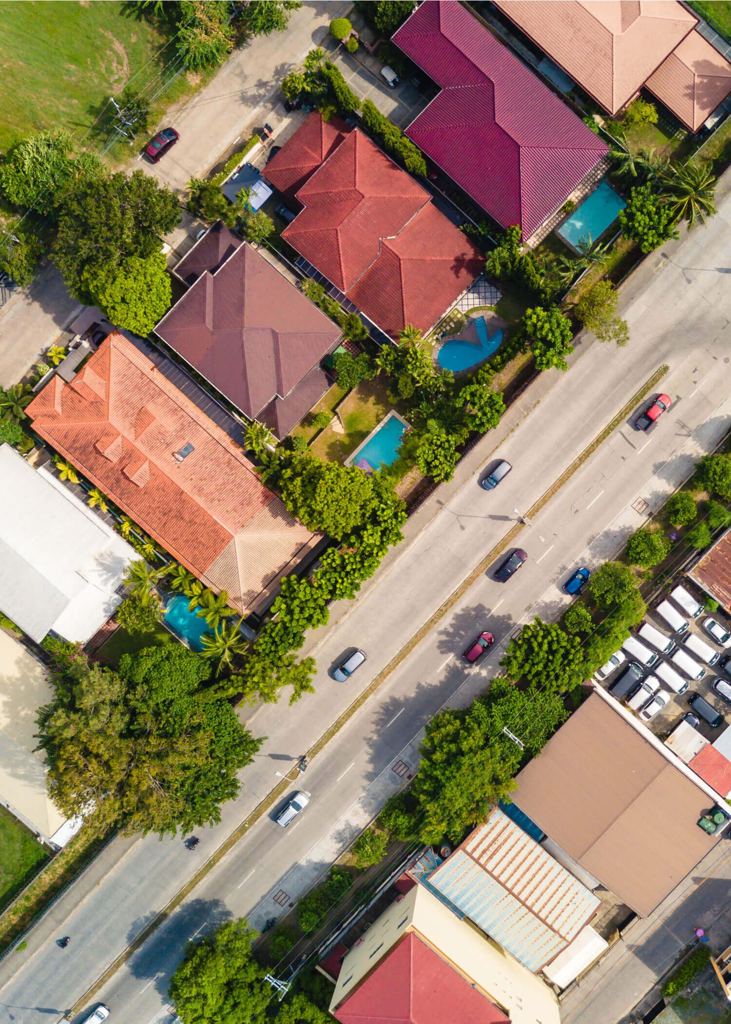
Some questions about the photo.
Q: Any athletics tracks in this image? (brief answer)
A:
No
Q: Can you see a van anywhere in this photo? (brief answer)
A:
Yes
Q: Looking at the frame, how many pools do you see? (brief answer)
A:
4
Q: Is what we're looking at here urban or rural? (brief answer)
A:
urban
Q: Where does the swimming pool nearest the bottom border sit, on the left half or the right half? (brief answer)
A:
left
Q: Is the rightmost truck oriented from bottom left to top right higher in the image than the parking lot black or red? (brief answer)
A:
red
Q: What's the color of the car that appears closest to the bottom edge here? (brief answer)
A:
white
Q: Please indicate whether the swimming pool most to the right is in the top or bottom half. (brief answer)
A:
top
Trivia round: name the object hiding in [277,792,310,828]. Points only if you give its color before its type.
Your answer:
white car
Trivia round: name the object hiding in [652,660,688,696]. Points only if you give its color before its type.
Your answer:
white van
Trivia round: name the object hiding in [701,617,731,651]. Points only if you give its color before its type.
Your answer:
white car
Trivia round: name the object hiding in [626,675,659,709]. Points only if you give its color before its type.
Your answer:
white vehicle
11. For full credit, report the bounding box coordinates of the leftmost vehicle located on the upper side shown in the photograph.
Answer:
[88,329,108,347]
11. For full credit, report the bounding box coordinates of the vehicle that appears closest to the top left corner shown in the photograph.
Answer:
[143,130,181,166]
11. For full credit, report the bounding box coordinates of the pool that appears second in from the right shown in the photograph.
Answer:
[436,315,505,372]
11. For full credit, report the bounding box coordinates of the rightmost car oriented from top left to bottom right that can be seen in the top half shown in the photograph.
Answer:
[407,74,437,104]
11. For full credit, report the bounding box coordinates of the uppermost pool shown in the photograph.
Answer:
[554,178,630,254]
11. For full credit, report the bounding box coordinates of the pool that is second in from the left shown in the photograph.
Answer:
[343,410,412,481]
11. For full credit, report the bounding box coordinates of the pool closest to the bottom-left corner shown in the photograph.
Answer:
[159,592,227,656]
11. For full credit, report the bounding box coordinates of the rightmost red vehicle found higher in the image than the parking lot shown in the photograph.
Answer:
[635,393,672,432]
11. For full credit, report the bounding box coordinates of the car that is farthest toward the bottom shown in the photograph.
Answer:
[80,1001,111,1024]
